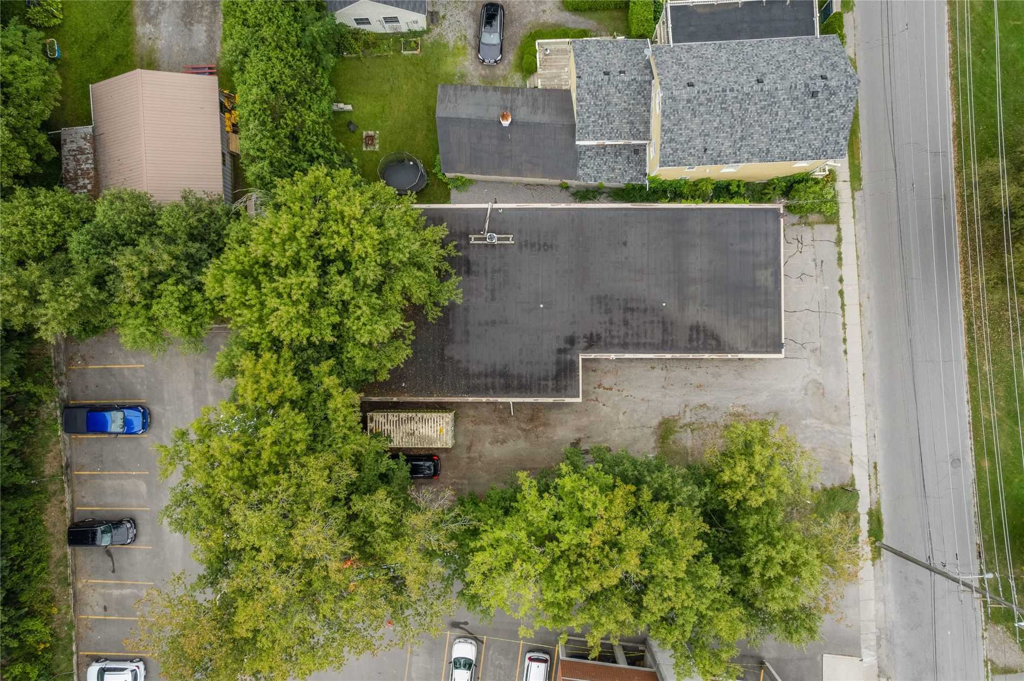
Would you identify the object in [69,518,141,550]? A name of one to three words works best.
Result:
car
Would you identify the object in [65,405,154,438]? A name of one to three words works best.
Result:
truck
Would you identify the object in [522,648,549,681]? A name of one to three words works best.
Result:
car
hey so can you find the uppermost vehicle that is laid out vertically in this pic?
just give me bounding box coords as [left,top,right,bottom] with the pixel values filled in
[475,4,506,69]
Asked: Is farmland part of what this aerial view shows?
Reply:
No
